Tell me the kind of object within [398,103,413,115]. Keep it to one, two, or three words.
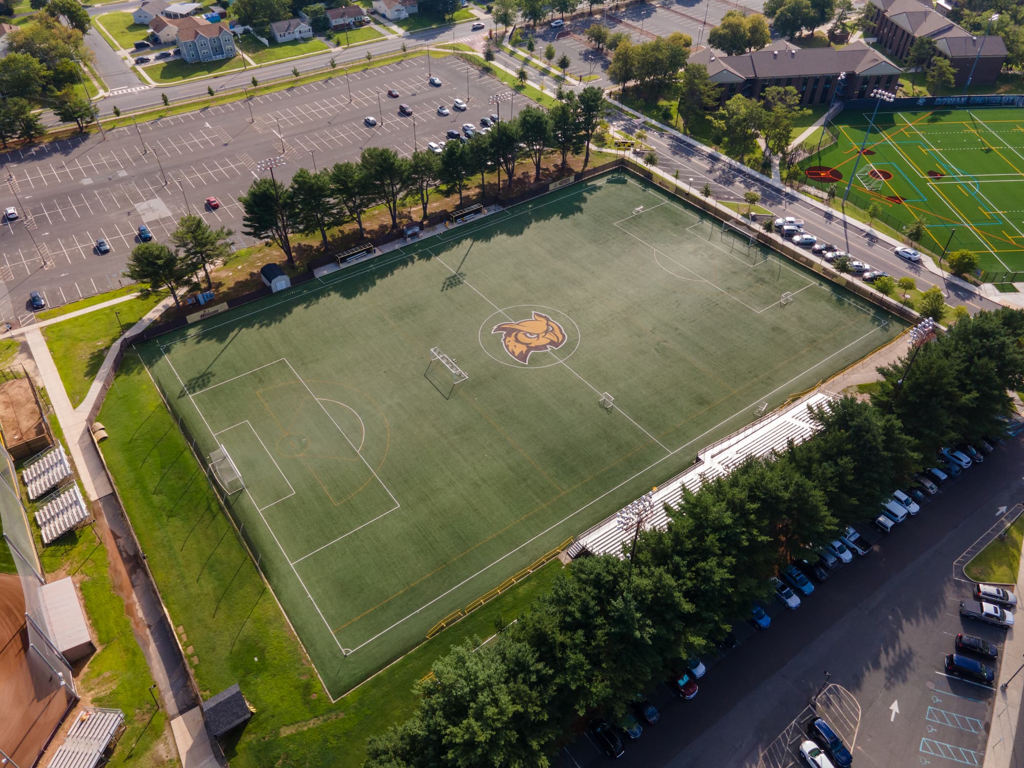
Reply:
vehicle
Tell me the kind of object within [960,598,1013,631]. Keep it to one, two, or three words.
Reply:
truck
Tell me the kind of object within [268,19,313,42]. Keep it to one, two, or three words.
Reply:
house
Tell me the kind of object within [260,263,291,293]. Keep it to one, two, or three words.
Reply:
shed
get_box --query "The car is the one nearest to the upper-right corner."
[894,248,921,261]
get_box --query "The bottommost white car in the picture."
[797,738,832,768]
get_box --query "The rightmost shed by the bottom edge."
[201,683,259,749]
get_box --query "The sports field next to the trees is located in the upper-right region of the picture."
[787,105,1024,283]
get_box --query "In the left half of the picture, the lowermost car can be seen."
[29,292,45,309]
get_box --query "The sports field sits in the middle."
[134,167,914,703]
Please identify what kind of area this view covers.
sports ground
